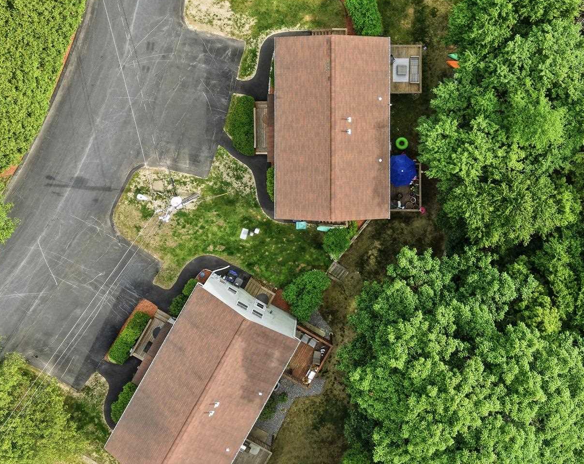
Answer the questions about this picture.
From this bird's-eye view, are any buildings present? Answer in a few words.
Yes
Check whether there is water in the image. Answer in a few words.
No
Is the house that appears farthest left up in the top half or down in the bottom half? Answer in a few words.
bottom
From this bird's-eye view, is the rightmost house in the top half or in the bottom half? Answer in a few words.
top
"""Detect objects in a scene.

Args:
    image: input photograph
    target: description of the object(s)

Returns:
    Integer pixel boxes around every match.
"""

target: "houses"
[254,31,421,226]
[104,269,333,464]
